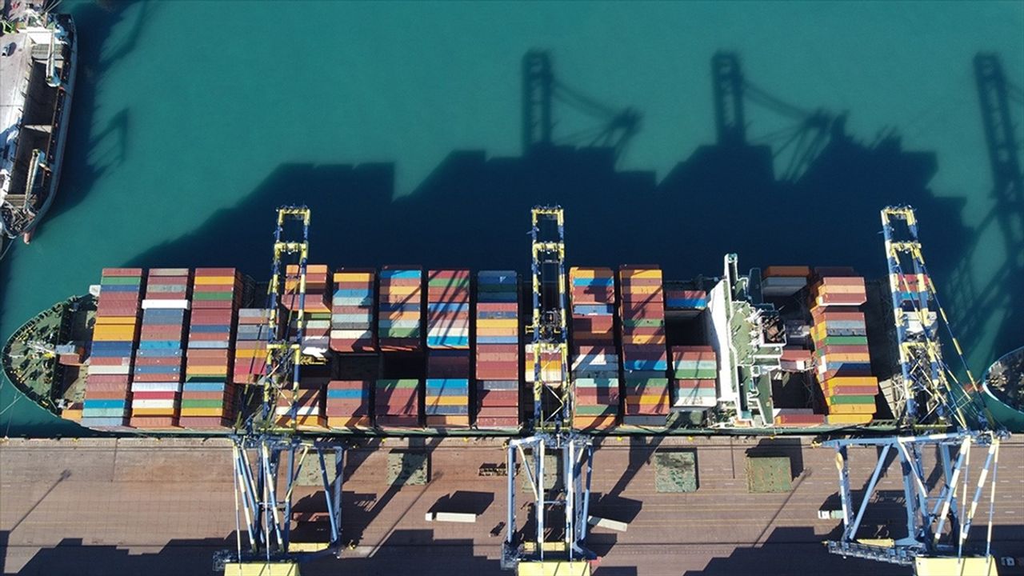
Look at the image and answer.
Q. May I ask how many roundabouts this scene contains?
0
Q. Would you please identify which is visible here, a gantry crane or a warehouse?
gantry crane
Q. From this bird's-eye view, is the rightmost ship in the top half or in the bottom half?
bottom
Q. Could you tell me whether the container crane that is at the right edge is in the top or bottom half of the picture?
bottom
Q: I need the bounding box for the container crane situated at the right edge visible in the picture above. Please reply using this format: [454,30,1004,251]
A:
[799,203,1015,576]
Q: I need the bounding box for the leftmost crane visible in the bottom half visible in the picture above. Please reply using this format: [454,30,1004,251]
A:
[214,203,370,576]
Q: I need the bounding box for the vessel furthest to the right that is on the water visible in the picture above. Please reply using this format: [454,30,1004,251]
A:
[960,345,1024,419]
